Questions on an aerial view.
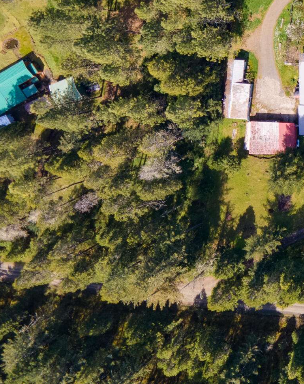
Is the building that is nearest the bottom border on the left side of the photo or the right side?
right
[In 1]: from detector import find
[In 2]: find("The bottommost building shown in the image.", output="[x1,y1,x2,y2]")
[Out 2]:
[245,121,298,155]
